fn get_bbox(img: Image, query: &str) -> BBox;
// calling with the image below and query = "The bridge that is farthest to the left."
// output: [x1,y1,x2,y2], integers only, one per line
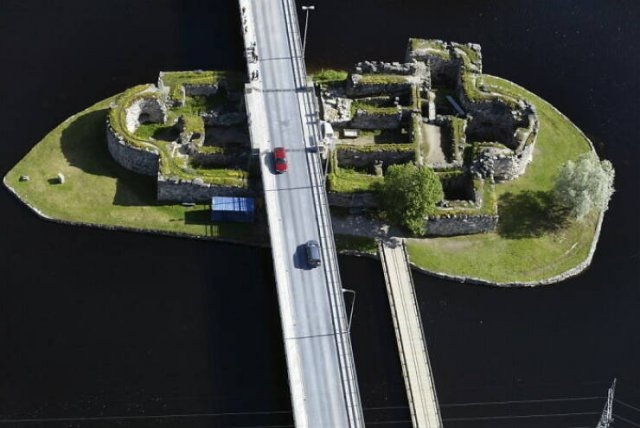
[239,0,365,428]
